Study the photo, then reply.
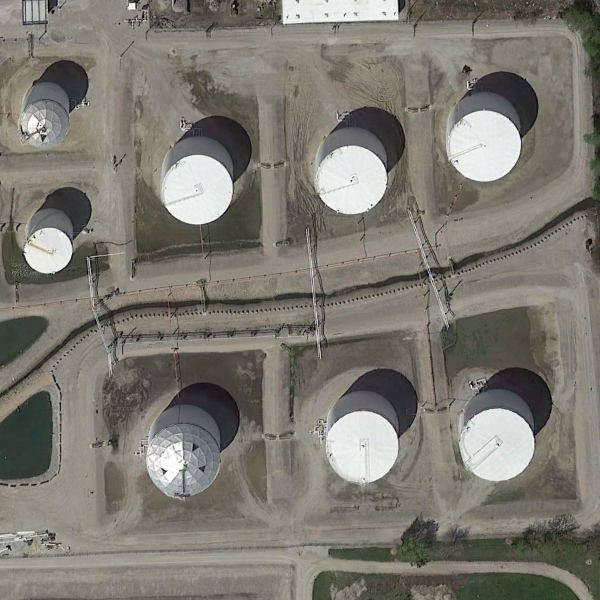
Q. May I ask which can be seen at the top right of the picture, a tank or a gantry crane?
tank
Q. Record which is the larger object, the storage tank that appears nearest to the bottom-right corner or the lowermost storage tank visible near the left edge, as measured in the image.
the storage tank that appears nearest to the bottom-right corner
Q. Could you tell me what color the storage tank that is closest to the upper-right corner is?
white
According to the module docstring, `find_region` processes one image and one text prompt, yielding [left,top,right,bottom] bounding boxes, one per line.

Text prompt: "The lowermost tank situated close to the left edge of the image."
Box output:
[19,208,73,275]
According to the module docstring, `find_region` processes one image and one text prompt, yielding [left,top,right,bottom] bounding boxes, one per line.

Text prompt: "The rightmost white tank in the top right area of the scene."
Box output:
[447,90,524,182]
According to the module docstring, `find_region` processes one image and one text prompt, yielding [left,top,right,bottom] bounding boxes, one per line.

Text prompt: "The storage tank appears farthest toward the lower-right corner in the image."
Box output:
[459,388,537,483]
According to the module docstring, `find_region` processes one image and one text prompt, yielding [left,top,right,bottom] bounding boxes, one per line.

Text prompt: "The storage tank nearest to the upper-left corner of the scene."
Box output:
[14,81,70,148]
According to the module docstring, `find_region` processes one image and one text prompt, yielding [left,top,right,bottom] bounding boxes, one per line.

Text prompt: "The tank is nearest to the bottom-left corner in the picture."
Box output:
[144,404,222,500]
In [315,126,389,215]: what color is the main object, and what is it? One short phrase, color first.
white storage tank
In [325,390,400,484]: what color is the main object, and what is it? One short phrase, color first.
white storage tank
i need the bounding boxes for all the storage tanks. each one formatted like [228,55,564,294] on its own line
[19,208,73,275]
[325,390,400,484]
[14,81,70,148]
[459,388,537,483]
[447,90,524,182]
[315,126,389,215]
[161,136,234,225]
[144,404,222,500]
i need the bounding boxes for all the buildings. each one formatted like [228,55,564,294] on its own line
[21,0,51,26]
[282,0,398,25]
